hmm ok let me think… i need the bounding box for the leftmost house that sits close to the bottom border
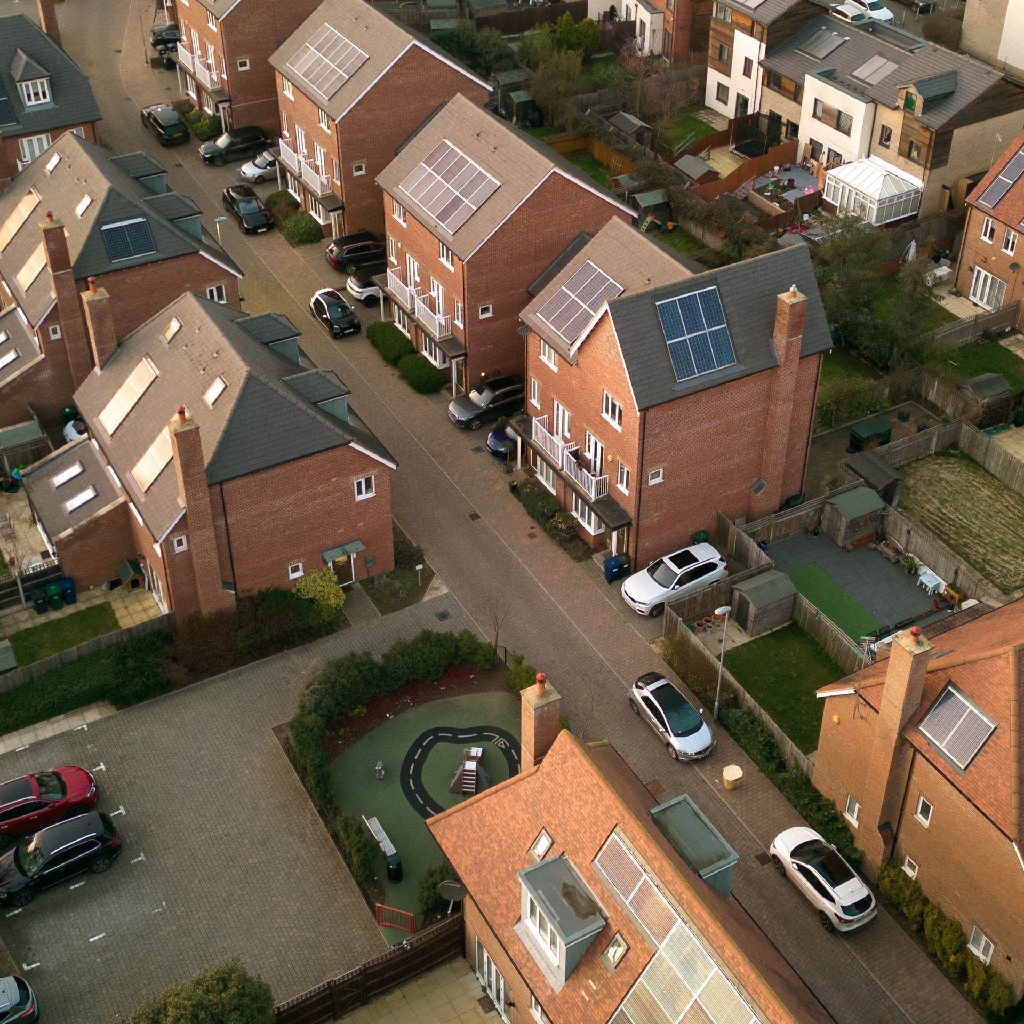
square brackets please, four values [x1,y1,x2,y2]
[422,672,834,1024]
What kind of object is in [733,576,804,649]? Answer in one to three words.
shed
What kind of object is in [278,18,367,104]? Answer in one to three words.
solar array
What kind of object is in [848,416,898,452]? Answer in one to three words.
building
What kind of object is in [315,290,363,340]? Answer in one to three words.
car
